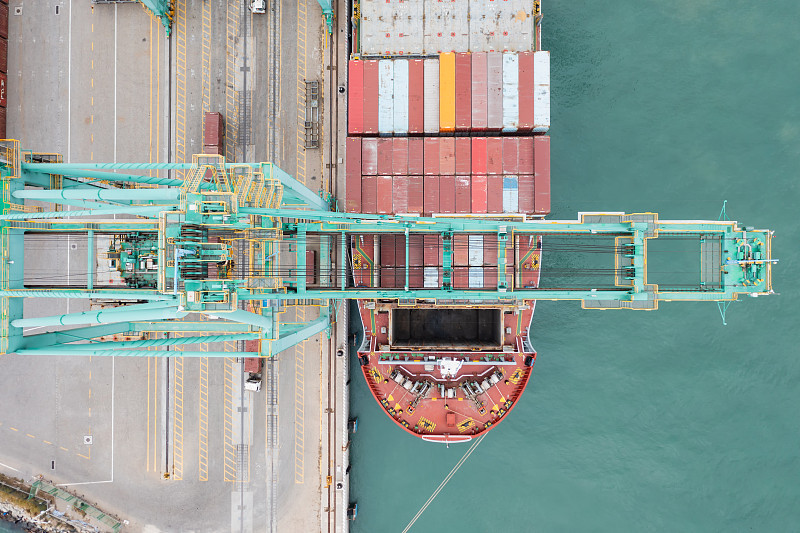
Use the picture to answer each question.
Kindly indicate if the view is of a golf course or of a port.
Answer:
port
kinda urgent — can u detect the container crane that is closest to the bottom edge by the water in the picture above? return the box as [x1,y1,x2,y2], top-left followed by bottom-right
[0,140,779,358]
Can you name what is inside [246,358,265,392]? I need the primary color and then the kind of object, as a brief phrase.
white vehicle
